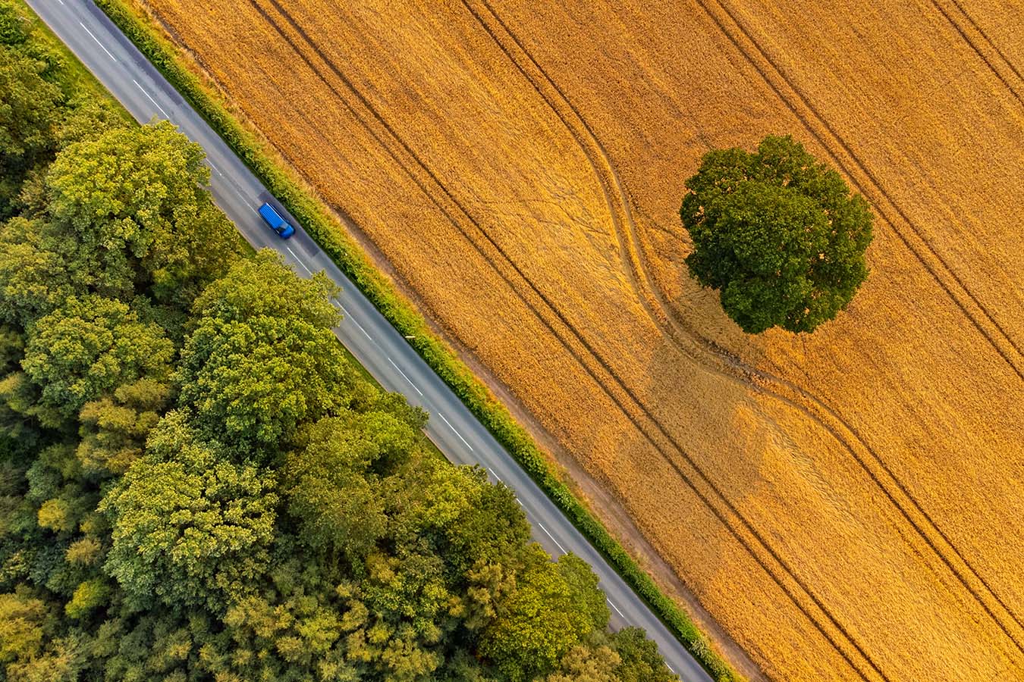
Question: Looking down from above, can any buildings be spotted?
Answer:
No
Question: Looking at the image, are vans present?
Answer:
Yes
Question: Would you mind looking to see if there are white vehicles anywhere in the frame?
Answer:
No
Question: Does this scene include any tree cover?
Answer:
Yes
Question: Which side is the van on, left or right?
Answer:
left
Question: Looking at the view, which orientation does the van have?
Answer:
diagonally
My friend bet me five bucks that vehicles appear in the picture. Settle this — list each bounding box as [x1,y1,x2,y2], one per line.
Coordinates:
[259,202,300,243]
